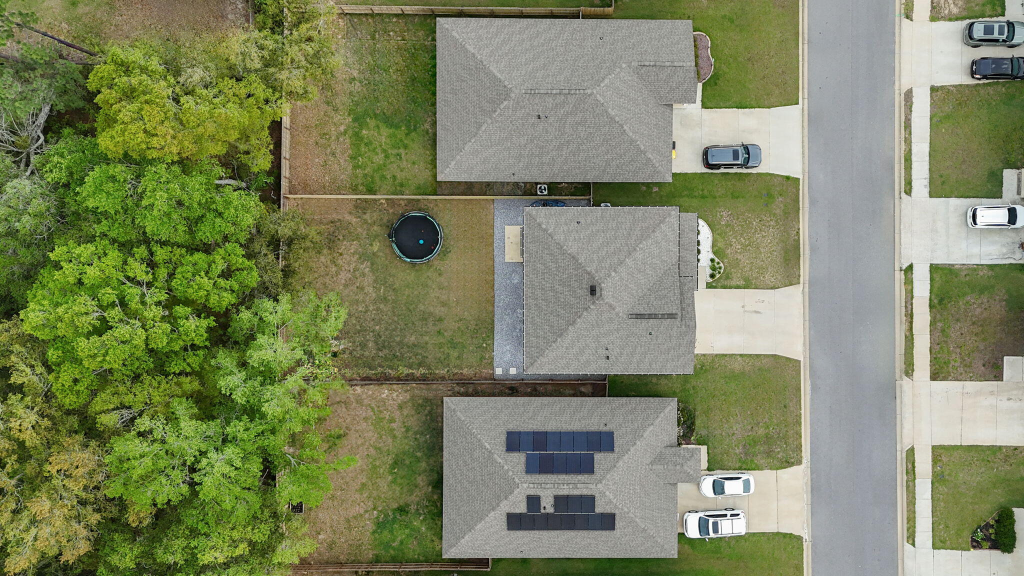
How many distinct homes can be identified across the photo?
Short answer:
3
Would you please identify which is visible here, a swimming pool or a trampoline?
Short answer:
trampoline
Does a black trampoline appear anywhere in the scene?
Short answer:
Yes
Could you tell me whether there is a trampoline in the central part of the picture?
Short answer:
Yes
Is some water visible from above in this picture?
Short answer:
No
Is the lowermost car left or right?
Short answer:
right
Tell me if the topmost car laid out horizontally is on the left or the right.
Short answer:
right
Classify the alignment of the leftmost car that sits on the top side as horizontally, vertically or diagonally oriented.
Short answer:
horizontally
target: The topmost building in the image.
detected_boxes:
[436,17,697,182]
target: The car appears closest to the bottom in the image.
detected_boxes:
[683,507,746,540]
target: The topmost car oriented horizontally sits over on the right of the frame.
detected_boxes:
[961,18,1024,50]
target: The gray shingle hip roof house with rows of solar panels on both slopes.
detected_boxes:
[442,396,702,559]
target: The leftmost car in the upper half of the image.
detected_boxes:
[701,142,761,172]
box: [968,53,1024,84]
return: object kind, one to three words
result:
car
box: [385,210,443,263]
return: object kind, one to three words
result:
trampoline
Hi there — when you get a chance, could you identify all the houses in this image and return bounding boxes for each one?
[522,205,700,375]
[442,396,702,559]
[436,17,697,182]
